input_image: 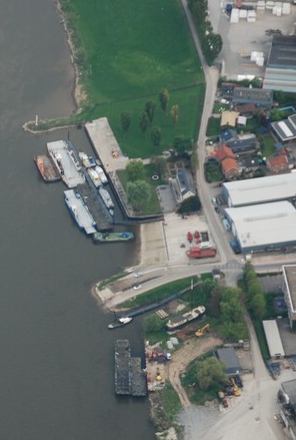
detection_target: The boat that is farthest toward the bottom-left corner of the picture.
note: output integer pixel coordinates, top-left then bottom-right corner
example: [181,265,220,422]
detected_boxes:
[107,310,134,327]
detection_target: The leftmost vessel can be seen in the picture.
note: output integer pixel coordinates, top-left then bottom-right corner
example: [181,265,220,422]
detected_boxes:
[35,154,58,181]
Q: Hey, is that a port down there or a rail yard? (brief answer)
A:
port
